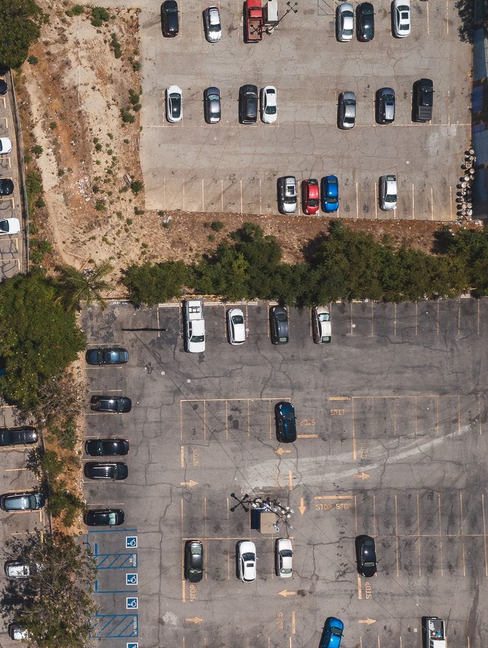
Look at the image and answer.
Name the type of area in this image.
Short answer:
parking lot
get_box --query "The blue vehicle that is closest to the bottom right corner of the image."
[320,617,343,648]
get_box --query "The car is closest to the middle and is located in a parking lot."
[228,308,246,345]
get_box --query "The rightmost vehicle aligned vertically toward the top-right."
[413,79,435,124]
